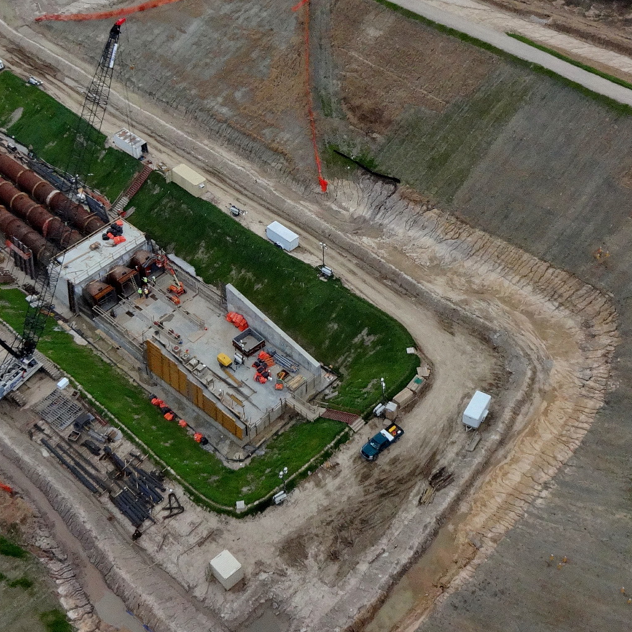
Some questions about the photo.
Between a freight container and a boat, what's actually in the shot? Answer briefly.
freight container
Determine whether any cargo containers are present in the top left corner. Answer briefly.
Yes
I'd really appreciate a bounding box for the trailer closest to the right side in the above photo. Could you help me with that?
[463,392,491,436]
